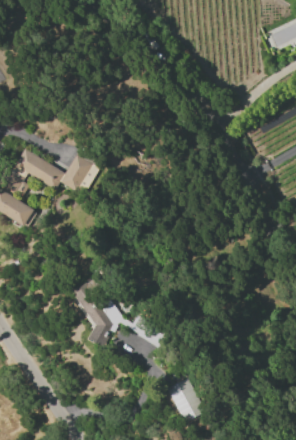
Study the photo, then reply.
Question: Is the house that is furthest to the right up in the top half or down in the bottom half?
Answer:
bottom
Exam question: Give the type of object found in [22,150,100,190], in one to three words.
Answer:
house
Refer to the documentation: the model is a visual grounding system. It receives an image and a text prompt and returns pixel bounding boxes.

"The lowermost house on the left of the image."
[74,290,124,346]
